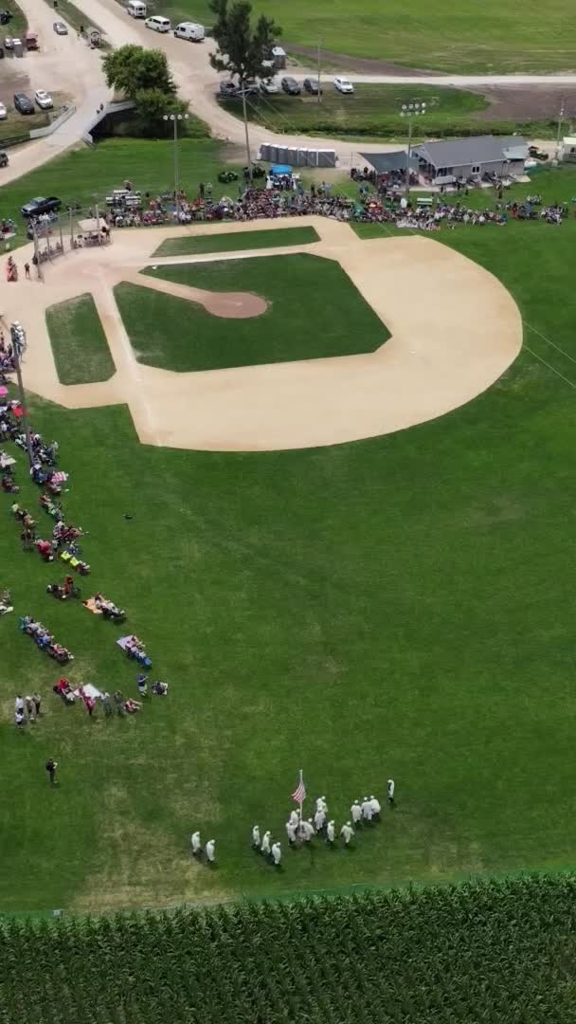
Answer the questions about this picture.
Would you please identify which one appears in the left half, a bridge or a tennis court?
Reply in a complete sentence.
You can see a bridge in the left half.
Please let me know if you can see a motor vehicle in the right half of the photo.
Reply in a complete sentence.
Yes, I can see a motor vehicle in the right half of the photo.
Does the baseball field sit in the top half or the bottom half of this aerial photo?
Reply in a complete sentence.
Seen from above, the baseball field lies in the top half of the view.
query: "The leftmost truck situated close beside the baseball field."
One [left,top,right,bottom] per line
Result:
[17,195,65,218]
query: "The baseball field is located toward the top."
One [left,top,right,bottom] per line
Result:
[0,216,524,450]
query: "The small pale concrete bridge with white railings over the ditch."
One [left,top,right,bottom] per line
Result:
[30,106,141,149]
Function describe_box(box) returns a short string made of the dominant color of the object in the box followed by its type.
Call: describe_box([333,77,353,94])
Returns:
white car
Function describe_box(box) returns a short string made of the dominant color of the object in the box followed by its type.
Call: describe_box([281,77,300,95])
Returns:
gray car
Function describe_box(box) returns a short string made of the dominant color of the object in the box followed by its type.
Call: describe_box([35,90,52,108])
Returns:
white car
